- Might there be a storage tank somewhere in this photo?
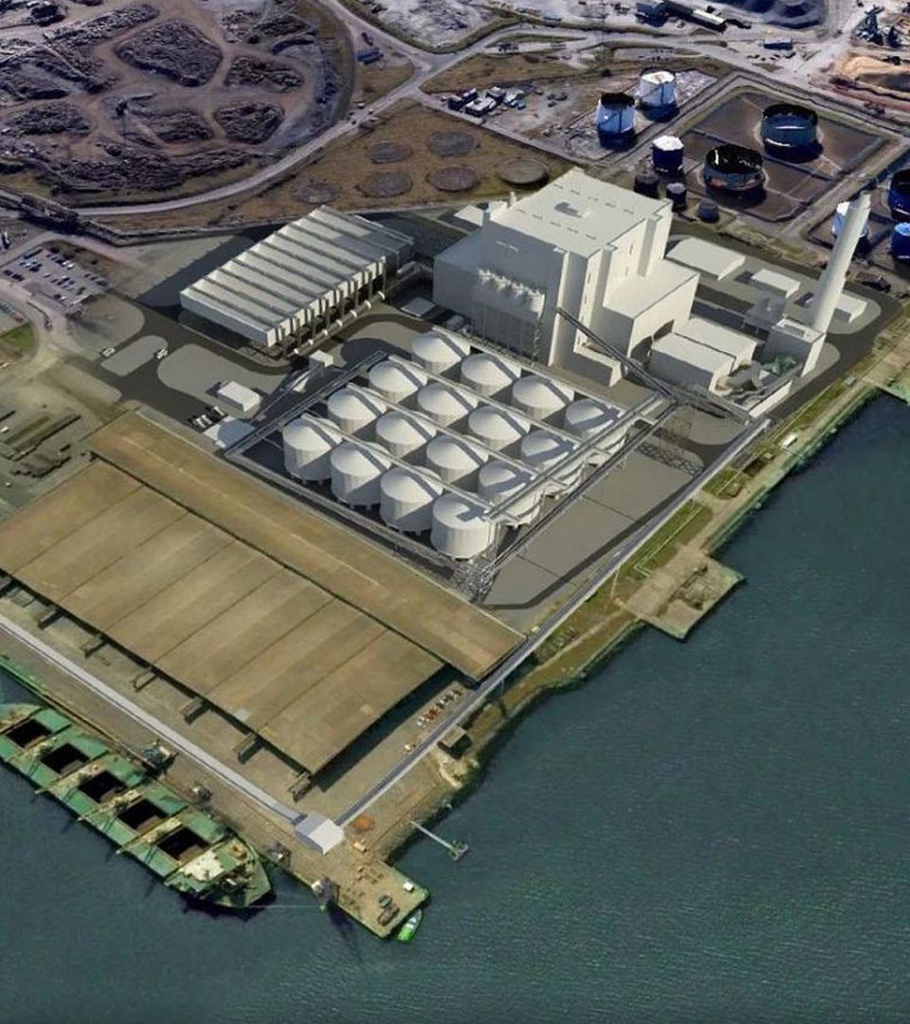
Yes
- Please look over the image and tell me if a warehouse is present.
Yes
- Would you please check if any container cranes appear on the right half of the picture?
No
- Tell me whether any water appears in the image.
Yes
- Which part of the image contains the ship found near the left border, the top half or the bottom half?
bottom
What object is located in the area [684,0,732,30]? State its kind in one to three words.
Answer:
building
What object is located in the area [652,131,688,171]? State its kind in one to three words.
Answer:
storage tank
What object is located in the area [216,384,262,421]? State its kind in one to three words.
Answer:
building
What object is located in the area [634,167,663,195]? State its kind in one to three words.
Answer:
storage tank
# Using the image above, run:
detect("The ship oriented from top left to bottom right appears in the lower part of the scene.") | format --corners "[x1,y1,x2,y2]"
[0,700,271,915]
